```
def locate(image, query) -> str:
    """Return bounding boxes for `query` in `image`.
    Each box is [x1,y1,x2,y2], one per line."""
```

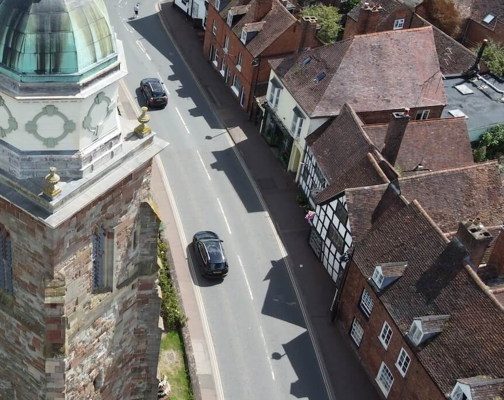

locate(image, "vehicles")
[141,77,171,105]
[193,234,235,283]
